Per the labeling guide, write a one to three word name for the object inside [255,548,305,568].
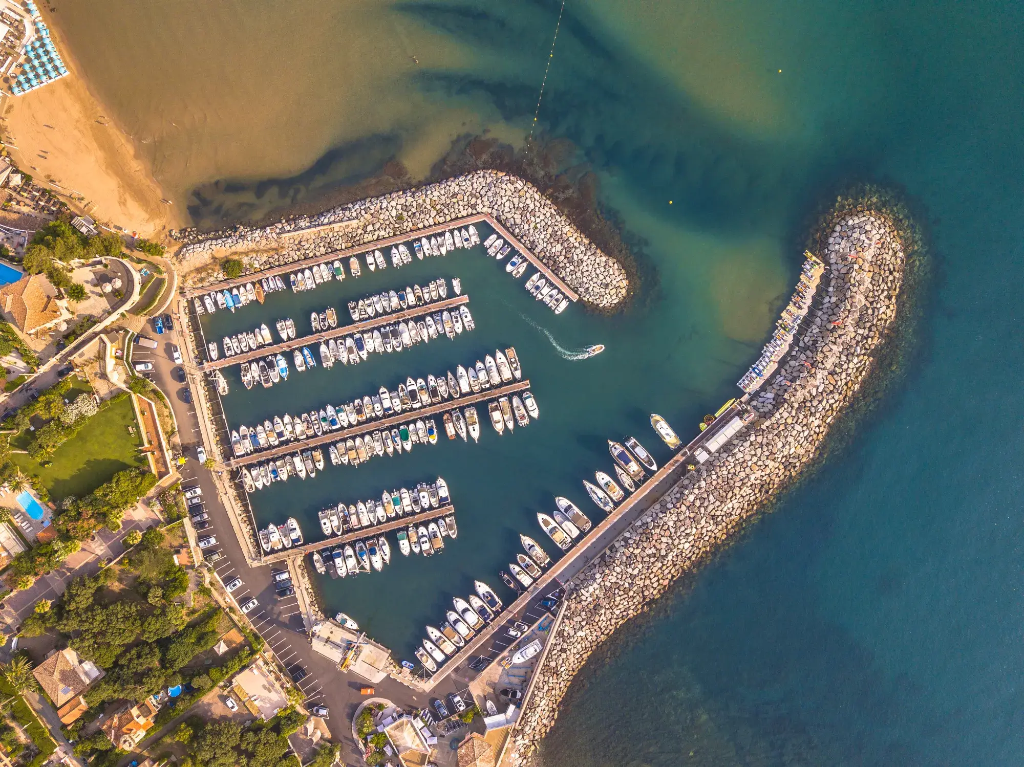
pier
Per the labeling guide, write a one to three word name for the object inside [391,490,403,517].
boat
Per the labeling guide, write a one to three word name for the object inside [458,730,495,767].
building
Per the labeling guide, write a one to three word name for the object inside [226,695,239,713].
vehicle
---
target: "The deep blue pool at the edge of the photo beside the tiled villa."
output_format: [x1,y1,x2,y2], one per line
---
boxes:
[0,262,25,286]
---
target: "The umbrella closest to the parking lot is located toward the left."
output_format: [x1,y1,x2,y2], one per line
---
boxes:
[111,367,125,381]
